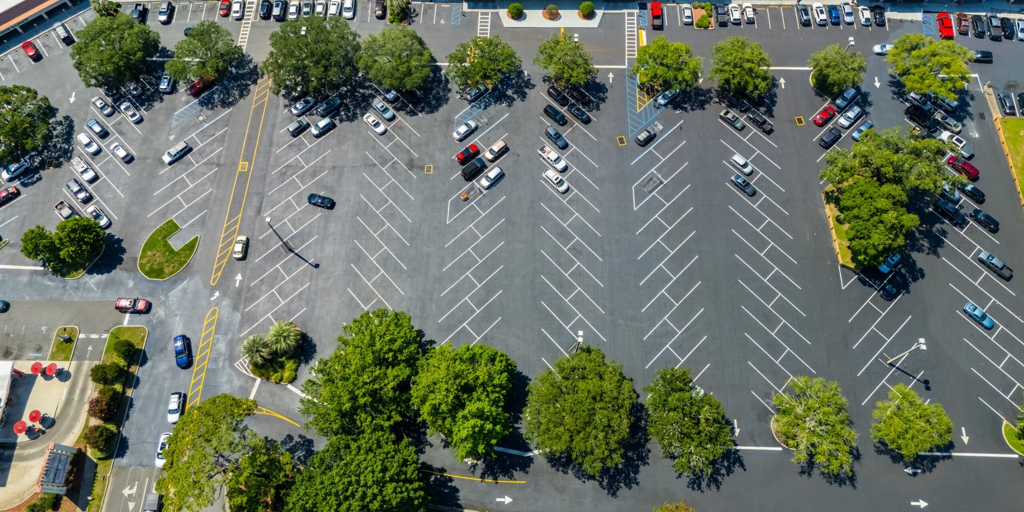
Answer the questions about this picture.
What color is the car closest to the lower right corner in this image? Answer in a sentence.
The car closest to the lower right corner looks blue in the image.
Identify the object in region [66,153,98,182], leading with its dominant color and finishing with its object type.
white truck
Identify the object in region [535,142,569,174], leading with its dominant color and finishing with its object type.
white truck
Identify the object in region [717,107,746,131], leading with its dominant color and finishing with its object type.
gray car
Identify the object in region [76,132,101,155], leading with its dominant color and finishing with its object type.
white car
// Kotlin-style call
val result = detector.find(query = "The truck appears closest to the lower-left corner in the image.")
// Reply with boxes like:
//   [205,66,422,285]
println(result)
[140,489,163,512]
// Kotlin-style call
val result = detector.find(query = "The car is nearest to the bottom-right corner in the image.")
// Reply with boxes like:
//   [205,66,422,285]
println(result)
[960,299,996,331]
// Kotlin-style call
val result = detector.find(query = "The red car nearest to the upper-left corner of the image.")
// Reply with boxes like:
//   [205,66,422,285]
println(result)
[21,41,42,63]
